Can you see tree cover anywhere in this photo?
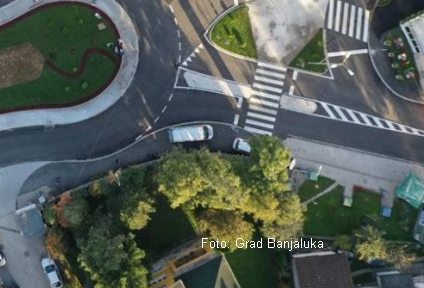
Yes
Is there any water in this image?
No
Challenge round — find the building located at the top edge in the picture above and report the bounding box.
[384,3,424,54]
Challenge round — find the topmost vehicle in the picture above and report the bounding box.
[166,123,212,141]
